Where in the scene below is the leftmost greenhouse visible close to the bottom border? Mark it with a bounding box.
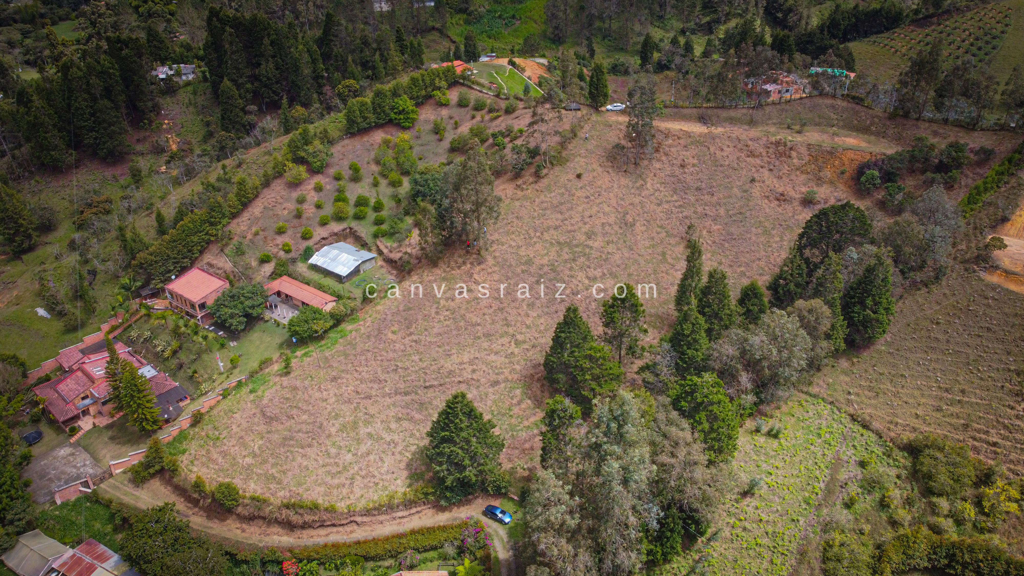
[6,529,71,576]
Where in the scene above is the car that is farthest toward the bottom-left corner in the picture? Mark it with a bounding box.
[481,500,517,525]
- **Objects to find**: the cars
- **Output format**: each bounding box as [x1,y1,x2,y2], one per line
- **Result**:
[481,500,517,525]
[605,103,626,111]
